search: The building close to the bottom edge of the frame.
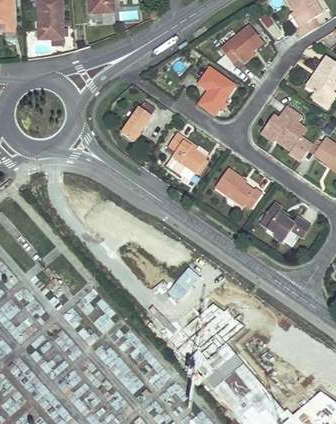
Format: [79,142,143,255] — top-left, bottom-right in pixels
[161,296,336,424]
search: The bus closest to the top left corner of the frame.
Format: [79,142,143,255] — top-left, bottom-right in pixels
[152,34,180,55]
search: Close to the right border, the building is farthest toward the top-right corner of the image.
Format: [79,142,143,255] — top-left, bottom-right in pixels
[288,0,324,38]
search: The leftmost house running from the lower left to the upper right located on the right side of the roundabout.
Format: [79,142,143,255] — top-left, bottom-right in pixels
[123,107,152,142]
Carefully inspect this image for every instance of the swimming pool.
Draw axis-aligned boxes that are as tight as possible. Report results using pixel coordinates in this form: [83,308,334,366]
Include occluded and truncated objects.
[119,10,140,22]
[271,0,285,9]
[36,44,51,54]
[173,60,187,74]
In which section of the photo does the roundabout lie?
top left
